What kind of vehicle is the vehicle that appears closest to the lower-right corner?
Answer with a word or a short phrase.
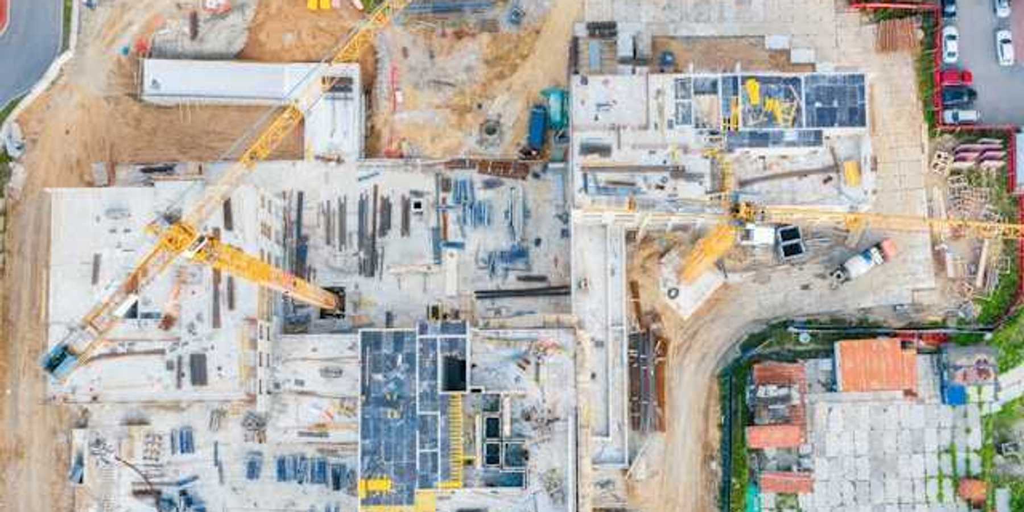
truck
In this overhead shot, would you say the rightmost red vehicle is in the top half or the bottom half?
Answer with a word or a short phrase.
top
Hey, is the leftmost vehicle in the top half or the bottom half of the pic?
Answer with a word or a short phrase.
top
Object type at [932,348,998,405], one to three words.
shed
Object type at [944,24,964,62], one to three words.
car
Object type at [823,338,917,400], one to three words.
house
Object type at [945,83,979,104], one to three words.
car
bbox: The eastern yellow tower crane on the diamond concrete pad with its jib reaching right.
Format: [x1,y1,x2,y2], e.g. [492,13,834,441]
[584,184,1024,295]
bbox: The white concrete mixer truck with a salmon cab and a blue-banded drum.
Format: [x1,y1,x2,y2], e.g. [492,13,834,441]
[833,231,907,287]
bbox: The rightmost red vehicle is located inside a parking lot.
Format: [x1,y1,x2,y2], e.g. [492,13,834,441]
[945,65,975,85]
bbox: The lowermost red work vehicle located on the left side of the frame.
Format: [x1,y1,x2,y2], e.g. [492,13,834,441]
[382,140,414,159]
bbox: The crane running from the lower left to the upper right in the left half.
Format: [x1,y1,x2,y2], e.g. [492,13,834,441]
[41,0,423,391]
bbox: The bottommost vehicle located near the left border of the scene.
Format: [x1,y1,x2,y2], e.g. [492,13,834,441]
[0,117,26,157]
